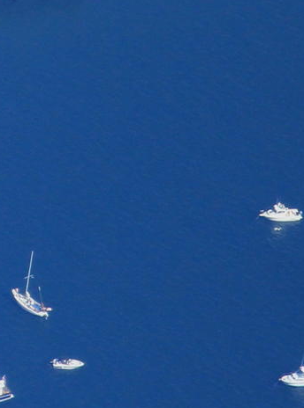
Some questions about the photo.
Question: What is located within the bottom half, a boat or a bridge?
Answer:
boat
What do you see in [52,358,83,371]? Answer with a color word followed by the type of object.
white boat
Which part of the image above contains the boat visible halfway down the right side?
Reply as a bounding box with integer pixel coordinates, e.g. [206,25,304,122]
[255,198,303,223]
